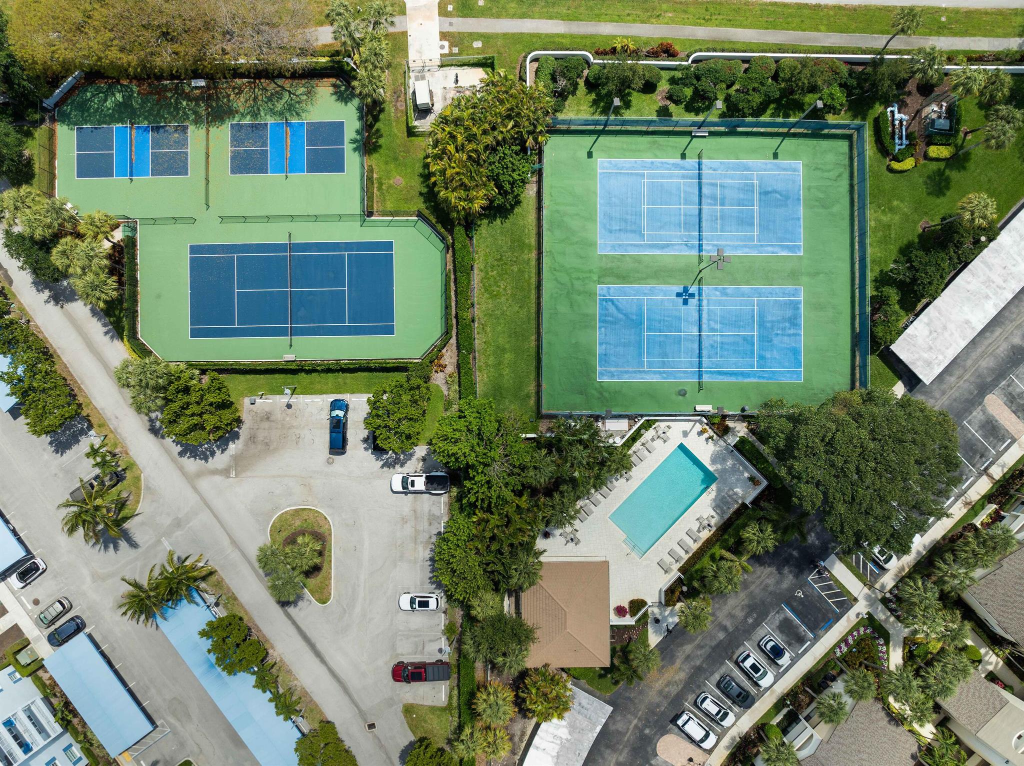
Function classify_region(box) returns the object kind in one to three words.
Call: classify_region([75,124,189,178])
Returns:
sports court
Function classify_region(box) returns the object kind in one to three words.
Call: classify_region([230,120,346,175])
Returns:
sports court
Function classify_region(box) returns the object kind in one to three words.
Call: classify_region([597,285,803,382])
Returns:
tennis court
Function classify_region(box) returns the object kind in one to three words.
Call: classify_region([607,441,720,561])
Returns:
swimming pool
